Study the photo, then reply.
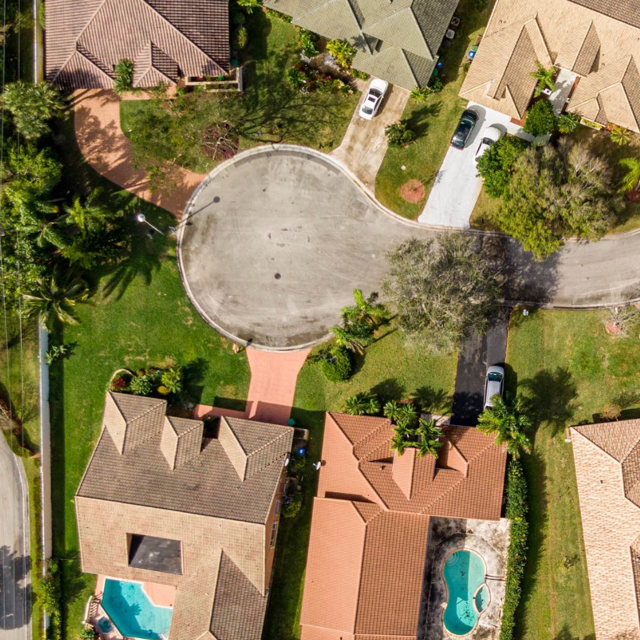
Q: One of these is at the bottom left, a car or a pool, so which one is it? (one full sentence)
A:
The feature located at the bottom left is a pool.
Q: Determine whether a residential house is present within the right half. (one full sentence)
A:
Yes, you'll find a residential house within the right half.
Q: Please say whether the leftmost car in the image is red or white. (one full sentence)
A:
The leftmost car is white.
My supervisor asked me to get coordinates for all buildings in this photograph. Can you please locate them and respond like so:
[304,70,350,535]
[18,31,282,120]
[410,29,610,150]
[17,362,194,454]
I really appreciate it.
[458,0,640,136]
[44,0,234,99]
[263,0,460,95]
[570,420,640,640]
[300,411,507,640]
[74,391,296,640]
